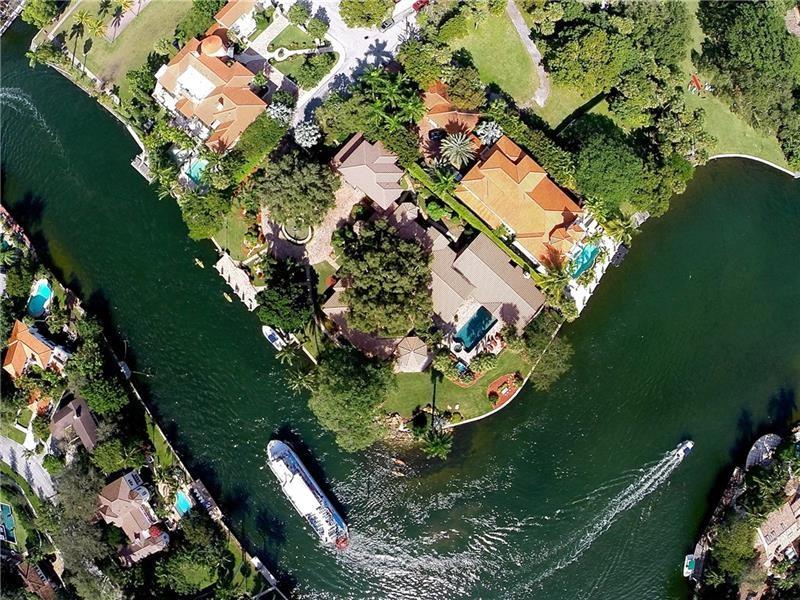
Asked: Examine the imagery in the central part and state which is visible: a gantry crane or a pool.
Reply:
pool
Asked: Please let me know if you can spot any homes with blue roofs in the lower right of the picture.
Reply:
No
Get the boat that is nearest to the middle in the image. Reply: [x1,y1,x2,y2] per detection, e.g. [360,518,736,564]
[265,326,288,352]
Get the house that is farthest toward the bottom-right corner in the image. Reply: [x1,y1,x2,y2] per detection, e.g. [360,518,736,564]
[749,491,800,556]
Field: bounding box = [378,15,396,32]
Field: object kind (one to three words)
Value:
vehicle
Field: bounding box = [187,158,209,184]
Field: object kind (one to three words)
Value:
swimming pool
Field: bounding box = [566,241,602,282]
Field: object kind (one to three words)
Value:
swimming pool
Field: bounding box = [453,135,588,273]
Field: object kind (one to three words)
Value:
house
